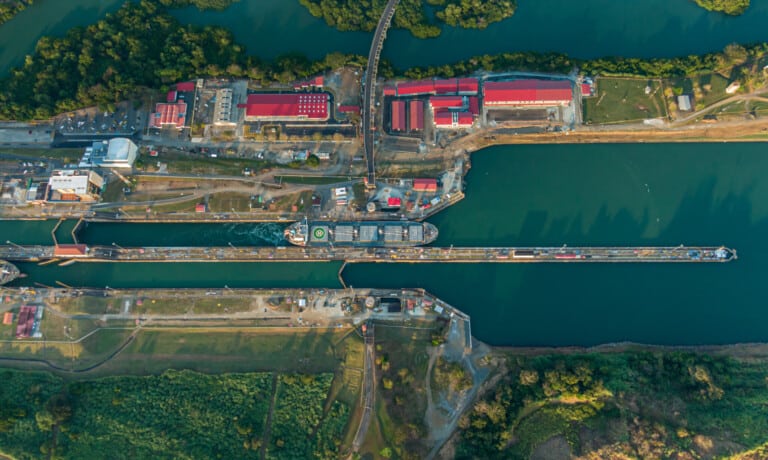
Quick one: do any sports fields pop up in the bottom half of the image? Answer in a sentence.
No, no sports field is visible in the bottom half of the image.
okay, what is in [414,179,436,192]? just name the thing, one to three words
shed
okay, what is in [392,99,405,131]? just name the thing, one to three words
shed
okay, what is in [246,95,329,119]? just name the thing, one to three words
building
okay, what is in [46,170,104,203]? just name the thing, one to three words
building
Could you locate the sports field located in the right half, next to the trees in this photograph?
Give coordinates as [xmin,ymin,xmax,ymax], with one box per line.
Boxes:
[584,78,670,124]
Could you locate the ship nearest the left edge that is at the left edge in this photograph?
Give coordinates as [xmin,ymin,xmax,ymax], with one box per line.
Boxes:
[0,260,28,284]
